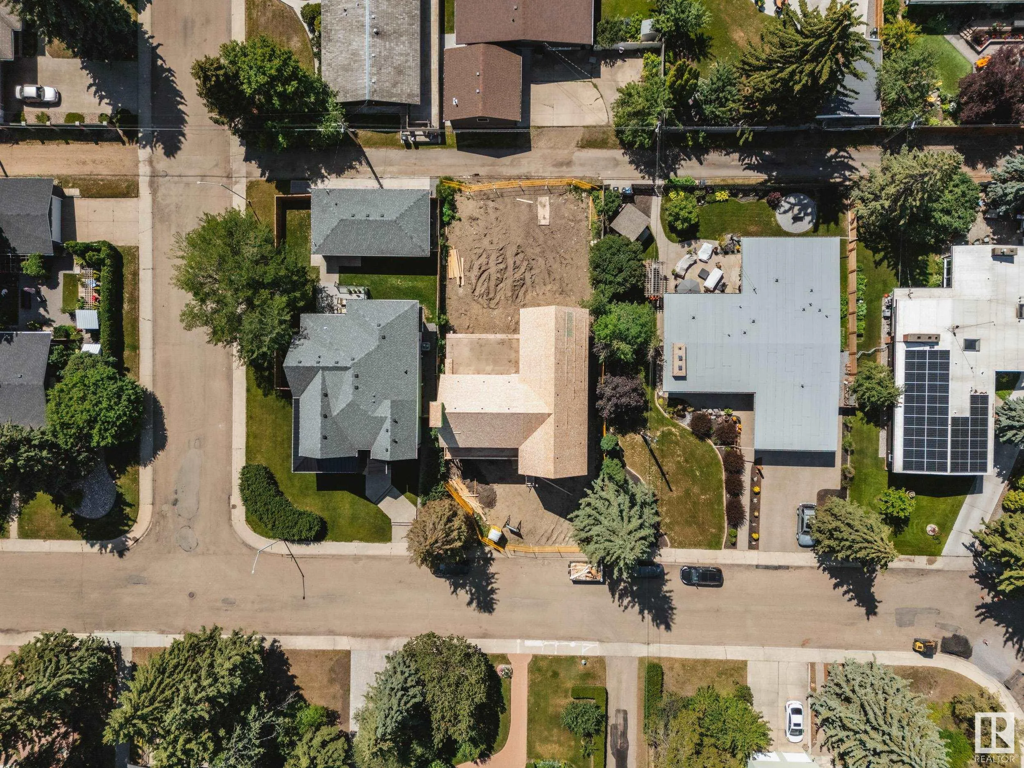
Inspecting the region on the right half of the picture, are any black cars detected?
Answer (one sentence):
Yes, the scene does show a black car on the right half of the picture.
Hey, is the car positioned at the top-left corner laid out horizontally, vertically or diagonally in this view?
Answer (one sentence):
In this picture, the car positioned at the top-left corner is oriented horizontally.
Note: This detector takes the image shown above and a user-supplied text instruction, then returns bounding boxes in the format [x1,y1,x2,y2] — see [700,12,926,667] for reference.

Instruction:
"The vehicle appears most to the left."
[14,83,60,105]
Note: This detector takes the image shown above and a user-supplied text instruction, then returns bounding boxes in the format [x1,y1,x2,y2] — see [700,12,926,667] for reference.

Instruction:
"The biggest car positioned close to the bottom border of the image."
[784,699,807,744]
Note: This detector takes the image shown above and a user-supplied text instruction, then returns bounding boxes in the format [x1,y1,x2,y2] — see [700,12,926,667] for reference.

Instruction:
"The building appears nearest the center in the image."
[430,306,589,479]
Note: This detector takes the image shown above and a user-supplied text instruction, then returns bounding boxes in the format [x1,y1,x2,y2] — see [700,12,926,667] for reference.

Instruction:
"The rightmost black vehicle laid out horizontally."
[678,565,725,588]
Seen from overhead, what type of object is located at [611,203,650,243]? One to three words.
shed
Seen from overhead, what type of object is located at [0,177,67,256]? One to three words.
building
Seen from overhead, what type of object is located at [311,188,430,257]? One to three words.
building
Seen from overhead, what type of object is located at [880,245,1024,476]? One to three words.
house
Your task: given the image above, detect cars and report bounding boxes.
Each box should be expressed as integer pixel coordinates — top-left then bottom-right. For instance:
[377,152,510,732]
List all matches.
[796,502,819,546]
[429,560,472,581]
[14,83,60,105]
[678,565,725,588]
[622,560,665,582]
[784,699,807,744]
